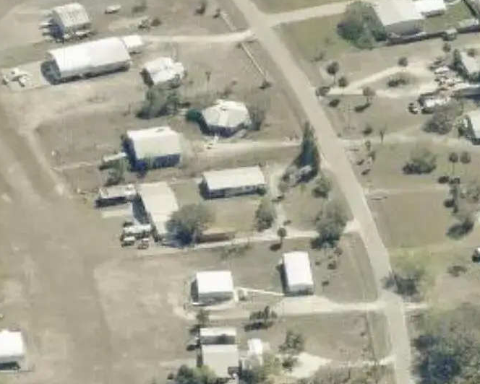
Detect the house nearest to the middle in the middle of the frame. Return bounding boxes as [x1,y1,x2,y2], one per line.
[204,167,265,196]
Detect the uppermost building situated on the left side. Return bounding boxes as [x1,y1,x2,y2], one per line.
[52,3,89,33]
